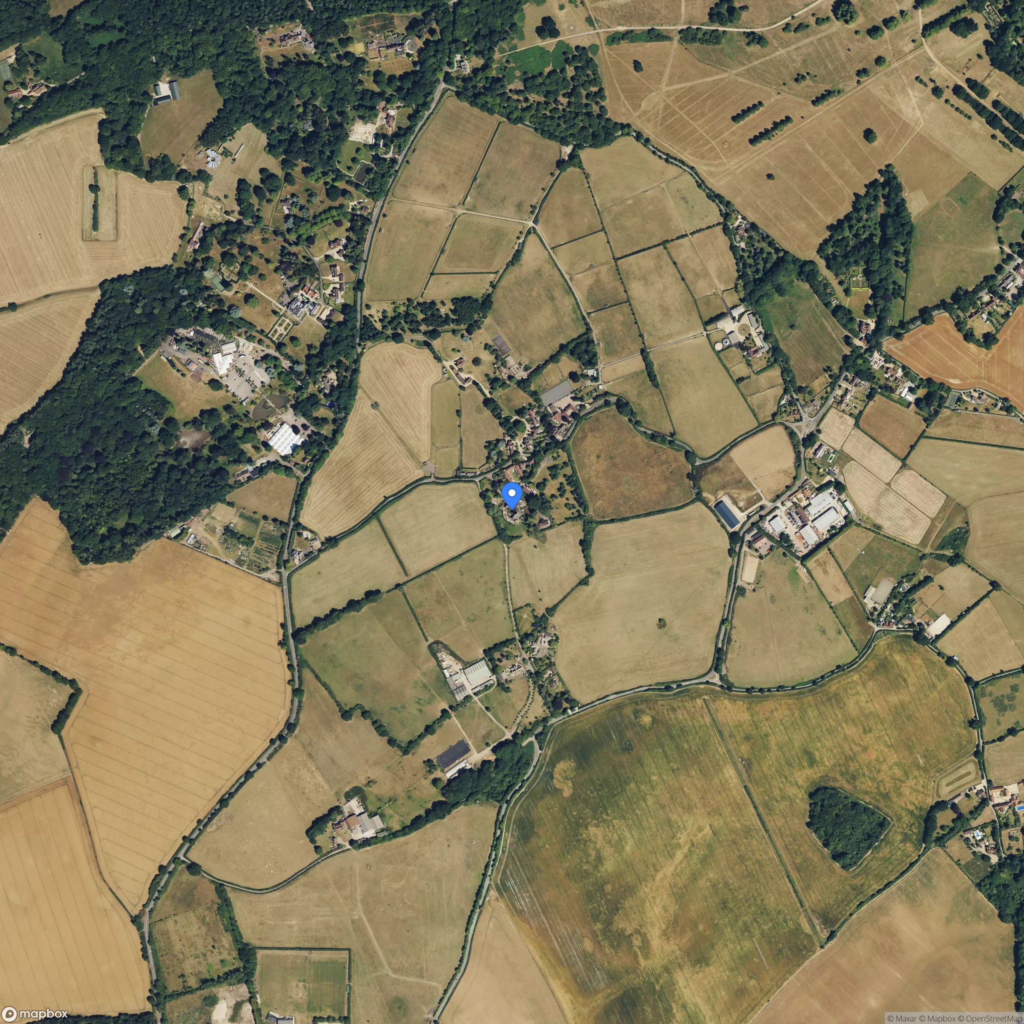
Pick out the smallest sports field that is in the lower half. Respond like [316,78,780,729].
[308,959,348,1015]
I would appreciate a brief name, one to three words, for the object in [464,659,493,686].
building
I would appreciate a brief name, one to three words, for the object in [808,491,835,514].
building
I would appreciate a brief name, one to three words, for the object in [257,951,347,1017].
sports field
